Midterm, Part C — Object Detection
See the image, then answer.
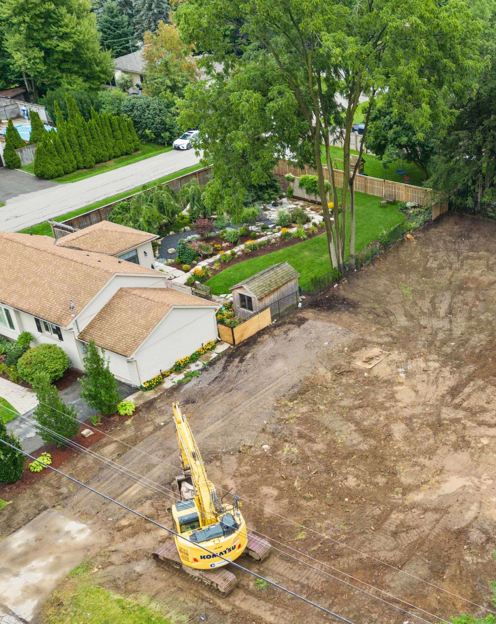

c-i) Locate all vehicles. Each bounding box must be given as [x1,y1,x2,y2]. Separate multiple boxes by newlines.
[154,397,270,595]
[171,133,207,150]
